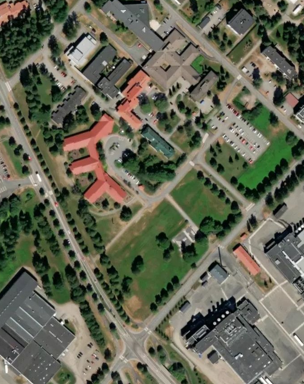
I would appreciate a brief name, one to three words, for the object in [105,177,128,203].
building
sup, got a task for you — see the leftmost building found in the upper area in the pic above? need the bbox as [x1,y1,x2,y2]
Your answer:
[0,0,20,24]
